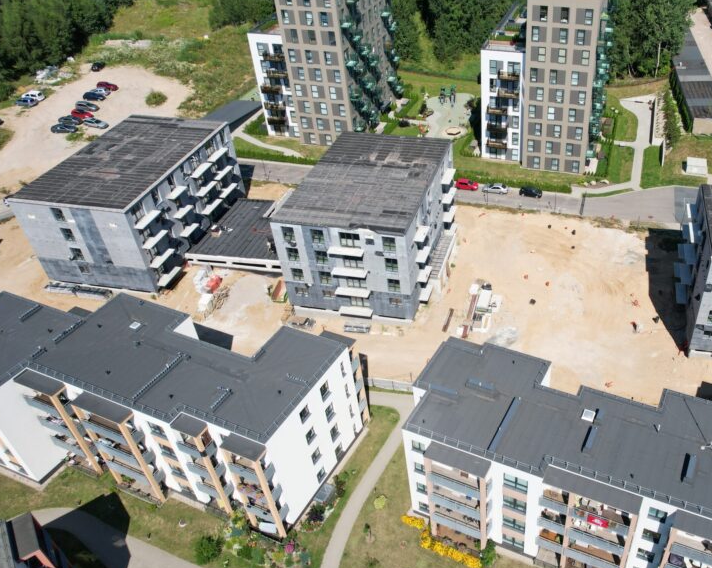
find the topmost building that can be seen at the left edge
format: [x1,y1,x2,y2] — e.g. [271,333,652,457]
[7,116,245,295]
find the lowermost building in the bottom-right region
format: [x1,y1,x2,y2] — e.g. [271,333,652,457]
[402,341,712,568]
